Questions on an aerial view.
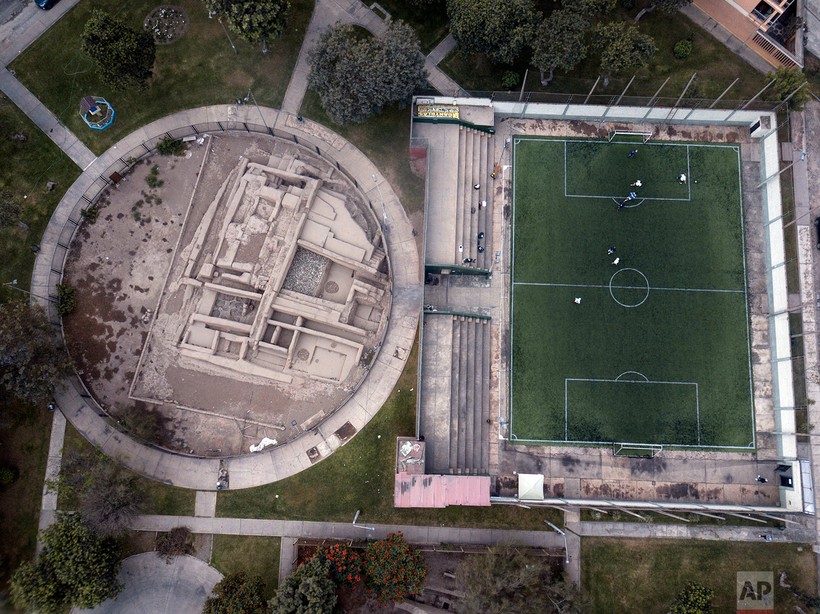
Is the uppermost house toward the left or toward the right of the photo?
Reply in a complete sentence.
You can find the uppermost house on the right side of the picture.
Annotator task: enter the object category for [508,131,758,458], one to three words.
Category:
soccer field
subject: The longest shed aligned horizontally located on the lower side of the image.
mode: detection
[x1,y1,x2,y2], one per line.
[394,472,492,508]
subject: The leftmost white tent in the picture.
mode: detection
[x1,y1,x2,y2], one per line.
[517,473,544,500]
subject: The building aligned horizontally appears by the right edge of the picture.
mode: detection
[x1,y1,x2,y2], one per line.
[725,0,795,29]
